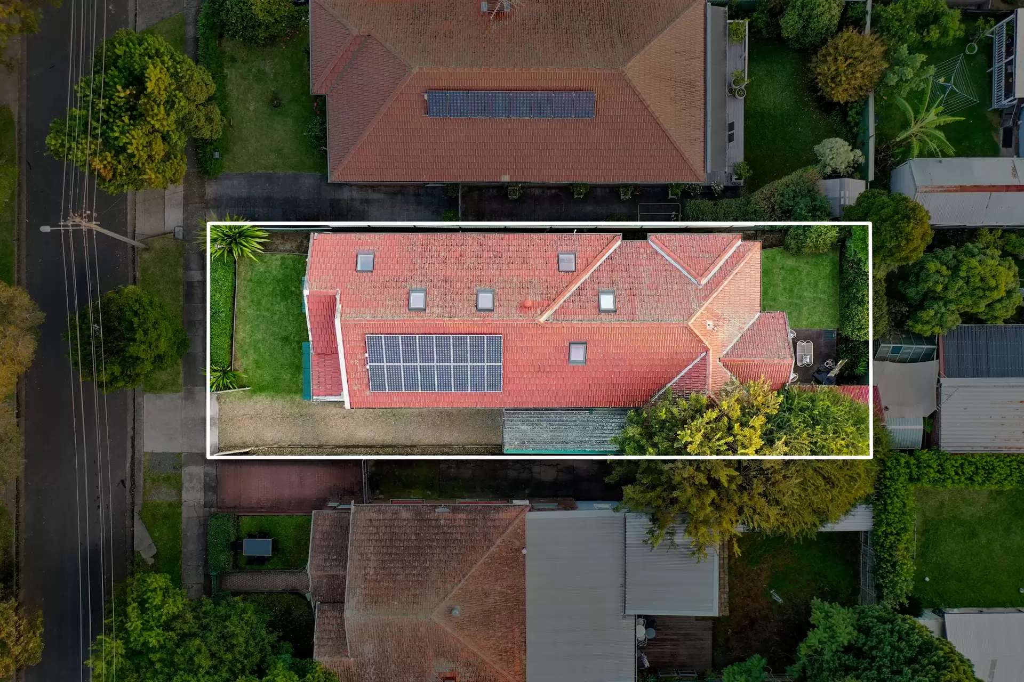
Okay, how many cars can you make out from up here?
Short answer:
none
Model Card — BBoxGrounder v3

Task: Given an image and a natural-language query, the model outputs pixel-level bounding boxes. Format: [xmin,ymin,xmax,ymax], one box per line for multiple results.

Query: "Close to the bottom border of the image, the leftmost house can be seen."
[305,493,718,682]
